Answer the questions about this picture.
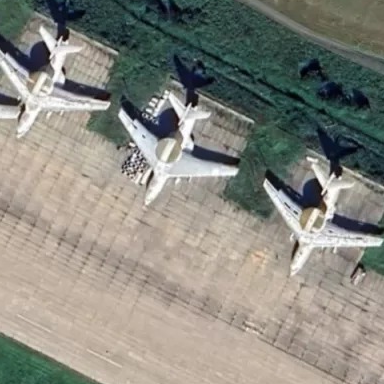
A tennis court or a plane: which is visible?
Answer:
plane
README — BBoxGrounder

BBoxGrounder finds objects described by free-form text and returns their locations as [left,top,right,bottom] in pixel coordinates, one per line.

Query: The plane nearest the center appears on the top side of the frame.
[116,93,238,209]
